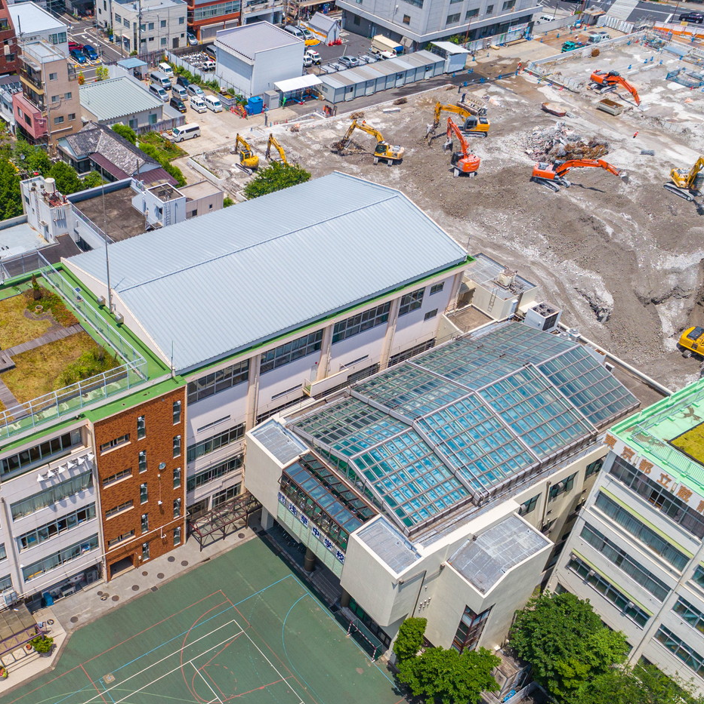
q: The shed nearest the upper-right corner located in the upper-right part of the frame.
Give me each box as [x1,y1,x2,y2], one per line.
[579,1,612,25]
